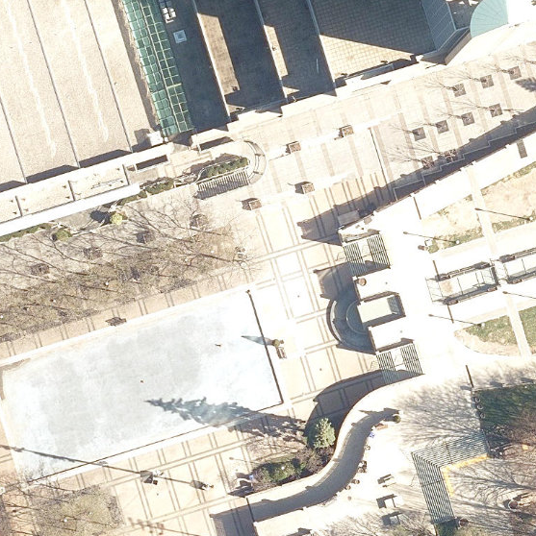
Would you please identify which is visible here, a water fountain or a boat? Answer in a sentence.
This aerial view contains a water fountain.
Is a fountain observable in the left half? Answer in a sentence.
No, the scene shows no fountain in the left half.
